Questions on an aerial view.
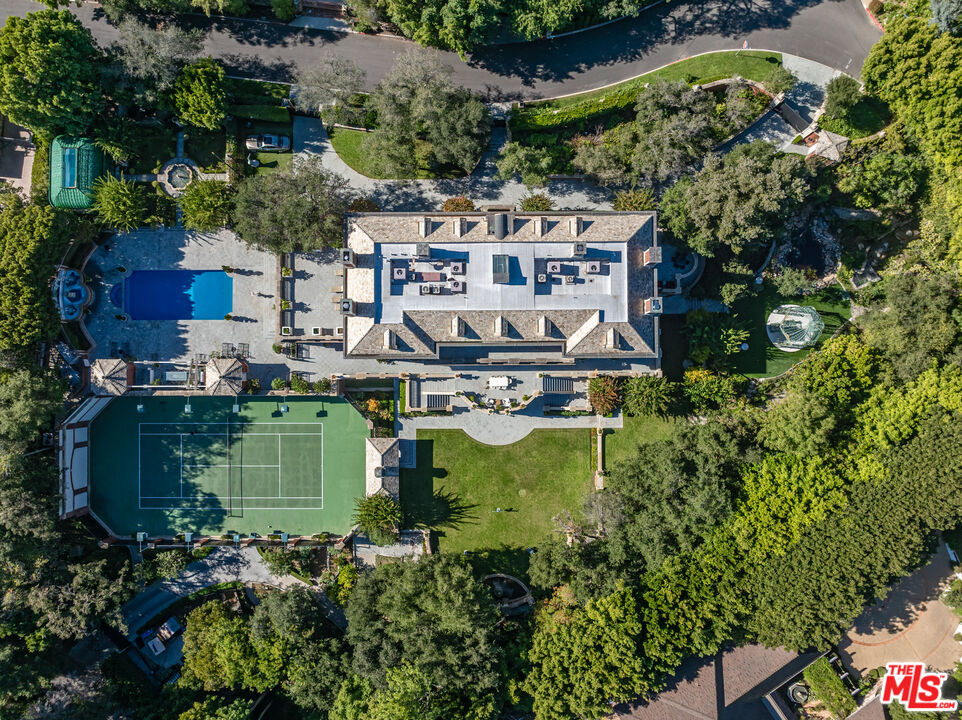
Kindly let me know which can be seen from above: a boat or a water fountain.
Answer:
water fountain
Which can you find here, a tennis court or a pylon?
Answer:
tennis court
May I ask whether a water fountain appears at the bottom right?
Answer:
Yes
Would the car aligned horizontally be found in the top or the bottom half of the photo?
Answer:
top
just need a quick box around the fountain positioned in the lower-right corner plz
[786,681,809,704]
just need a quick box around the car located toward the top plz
[248,132,290,152]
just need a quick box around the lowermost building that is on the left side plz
[365,438,401,504]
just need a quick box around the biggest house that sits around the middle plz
[340,203,662,365]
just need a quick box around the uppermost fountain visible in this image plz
[166,164,194,191]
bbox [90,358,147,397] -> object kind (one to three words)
building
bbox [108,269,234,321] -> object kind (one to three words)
swimming pool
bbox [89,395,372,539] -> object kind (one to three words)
tennis court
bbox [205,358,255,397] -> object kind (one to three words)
building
